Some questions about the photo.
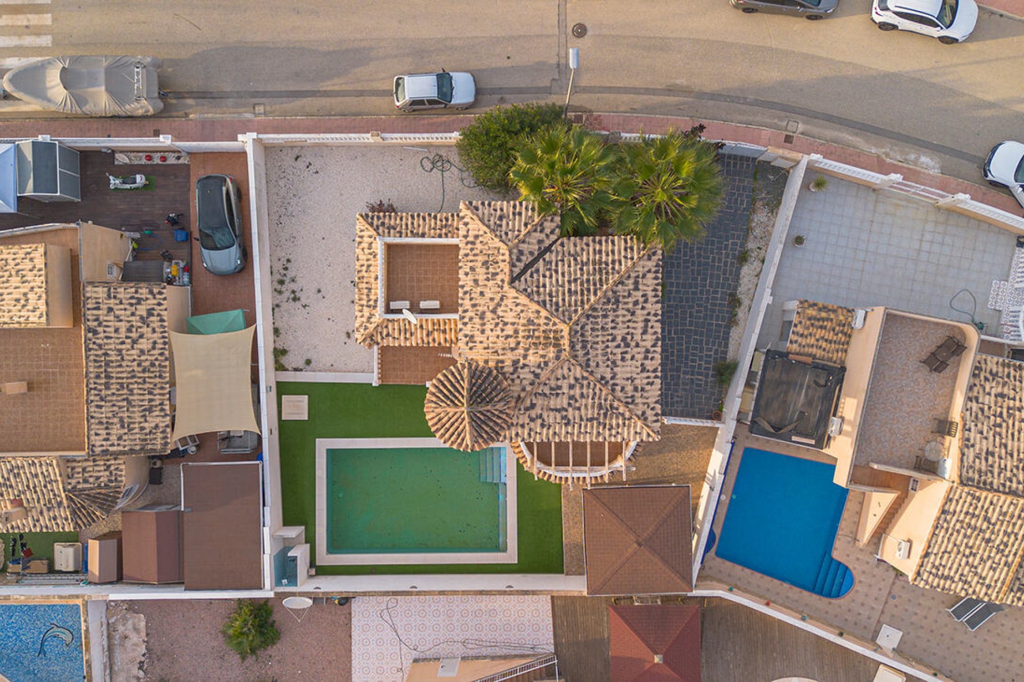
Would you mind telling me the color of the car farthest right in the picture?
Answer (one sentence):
The car farthest right looks white in the image.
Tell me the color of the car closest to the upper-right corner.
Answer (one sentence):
The car closest to the upper-right corner looks white in the image.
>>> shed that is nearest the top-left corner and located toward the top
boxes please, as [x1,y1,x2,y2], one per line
[16,140,80,202]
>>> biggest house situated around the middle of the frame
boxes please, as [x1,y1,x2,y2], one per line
[353,199,664,487]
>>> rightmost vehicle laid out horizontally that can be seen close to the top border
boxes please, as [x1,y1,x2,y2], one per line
[876,0,983,45]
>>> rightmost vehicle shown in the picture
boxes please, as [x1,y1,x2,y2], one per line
[985,142,1024,199]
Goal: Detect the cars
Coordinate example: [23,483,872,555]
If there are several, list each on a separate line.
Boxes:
[729,0,839,20]
[195,175,248,275]
[394,67,477,113]
[876,0,983,45]
[985,142,1024,199]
